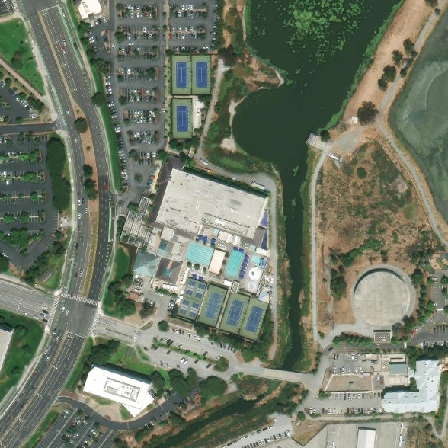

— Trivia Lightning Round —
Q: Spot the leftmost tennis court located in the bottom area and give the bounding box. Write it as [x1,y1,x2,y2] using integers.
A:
[178,278,210,321]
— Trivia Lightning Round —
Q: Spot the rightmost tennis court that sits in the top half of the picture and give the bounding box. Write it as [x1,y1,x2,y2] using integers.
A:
[192,55,212,94]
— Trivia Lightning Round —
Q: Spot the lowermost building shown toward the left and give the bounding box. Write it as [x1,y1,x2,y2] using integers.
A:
[80,367,155,419]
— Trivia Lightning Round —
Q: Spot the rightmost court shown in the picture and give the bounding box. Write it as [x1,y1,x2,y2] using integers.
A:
[239,298,269,338]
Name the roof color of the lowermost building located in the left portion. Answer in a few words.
white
